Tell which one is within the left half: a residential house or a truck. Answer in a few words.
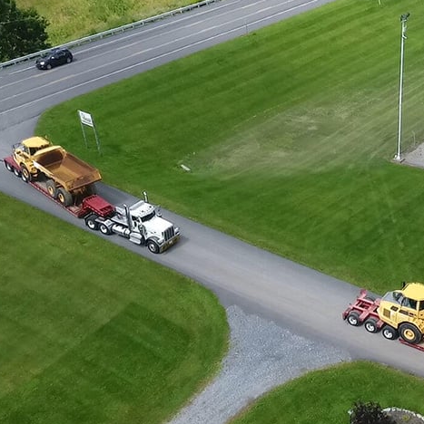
truck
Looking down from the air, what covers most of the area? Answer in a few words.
grass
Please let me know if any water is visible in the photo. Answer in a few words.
No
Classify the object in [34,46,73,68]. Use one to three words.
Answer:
car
